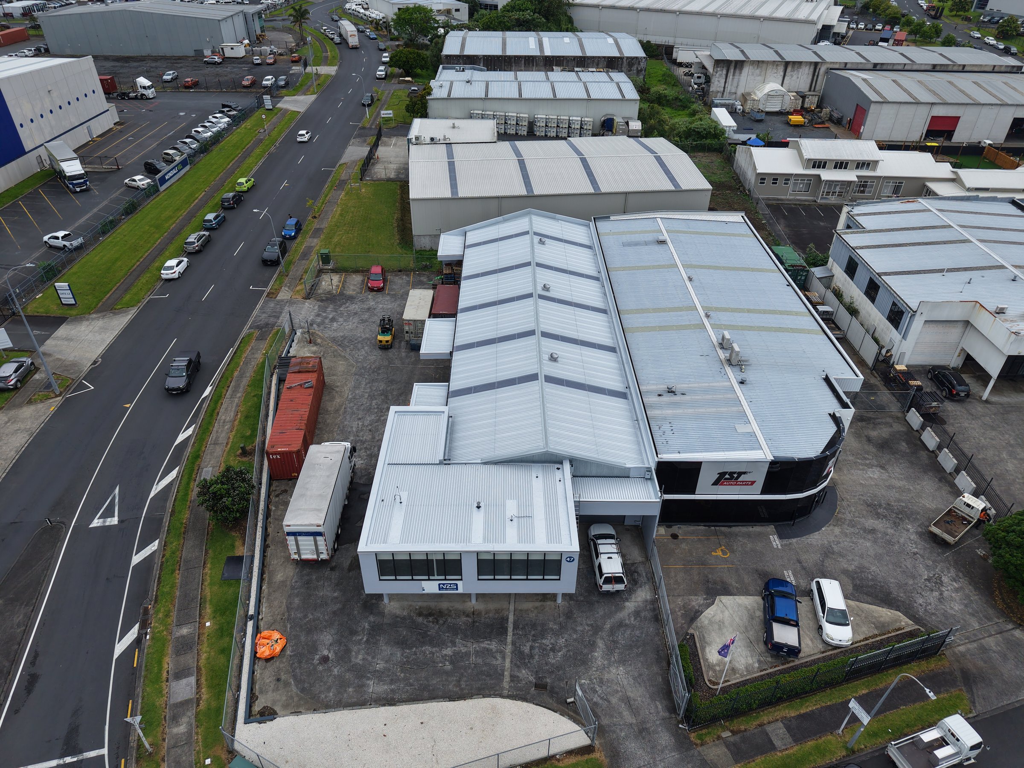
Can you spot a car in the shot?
Yes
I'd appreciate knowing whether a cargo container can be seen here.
Yes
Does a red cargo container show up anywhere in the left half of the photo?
Yes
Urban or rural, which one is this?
urban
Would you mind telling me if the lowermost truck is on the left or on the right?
right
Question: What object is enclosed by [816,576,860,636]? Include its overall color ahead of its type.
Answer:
white car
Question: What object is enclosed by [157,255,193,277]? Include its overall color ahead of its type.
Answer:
white car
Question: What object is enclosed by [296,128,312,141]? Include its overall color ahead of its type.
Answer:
white vehicle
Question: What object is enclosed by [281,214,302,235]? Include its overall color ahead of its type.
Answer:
blue car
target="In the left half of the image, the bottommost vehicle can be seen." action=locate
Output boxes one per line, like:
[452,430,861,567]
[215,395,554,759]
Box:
[272,446,362,575]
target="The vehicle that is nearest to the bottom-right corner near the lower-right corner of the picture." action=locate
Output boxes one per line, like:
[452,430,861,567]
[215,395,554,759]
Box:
[886,709,995,768]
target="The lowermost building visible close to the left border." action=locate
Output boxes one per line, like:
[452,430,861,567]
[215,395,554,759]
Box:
[0,52,135,192]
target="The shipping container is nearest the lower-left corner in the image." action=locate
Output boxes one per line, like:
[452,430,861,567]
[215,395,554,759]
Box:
[262,358,319,480]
